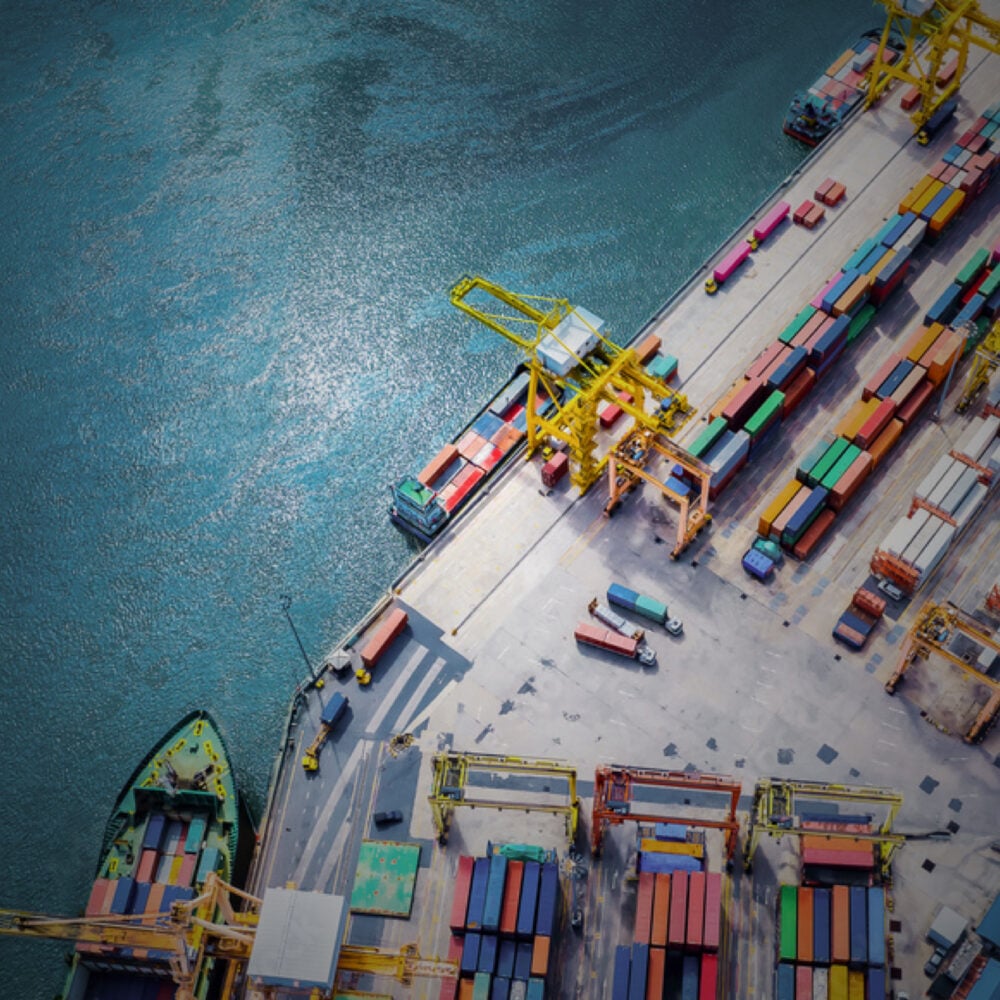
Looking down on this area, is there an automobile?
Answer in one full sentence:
Yes, I can see an automobile in this picture.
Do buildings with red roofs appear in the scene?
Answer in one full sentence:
No, I can't see a single building with a red roof in this photo.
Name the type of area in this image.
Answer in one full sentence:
The picture captures a port.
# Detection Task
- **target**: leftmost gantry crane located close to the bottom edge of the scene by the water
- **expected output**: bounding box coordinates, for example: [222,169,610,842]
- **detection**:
[0,872,462,1000]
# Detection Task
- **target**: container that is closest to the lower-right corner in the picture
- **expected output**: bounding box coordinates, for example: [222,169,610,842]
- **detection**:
[946,941,979,983]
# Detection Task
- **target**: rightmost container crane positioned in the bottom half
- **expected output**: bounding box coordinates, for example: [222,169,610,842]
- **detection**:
[878,600,1000,751]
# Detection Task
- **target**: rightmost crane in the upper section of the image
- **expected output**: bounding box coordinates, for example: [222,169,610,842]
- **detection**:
[954,327,1000,414]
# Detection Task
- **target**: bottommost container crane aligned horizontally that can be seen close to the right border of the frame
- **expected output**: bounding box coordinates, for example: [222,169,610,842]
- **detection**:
[742,771,960,892]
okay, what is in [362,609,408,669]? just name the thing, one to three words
shipping container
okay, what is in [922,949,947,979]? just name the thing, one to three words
car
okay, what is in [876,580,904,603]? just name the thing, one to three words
vehicle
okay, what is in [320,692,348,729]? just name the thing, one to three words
shipping container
